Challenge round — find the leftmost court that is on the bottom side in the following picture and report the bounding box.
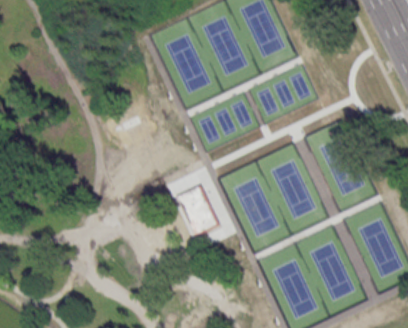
[219,161,292,252]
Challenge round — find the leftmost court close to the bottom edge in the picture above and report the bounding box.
[258,244,330,328]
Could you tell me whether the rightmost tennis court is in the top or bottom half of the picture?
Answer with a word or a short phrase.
bottom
